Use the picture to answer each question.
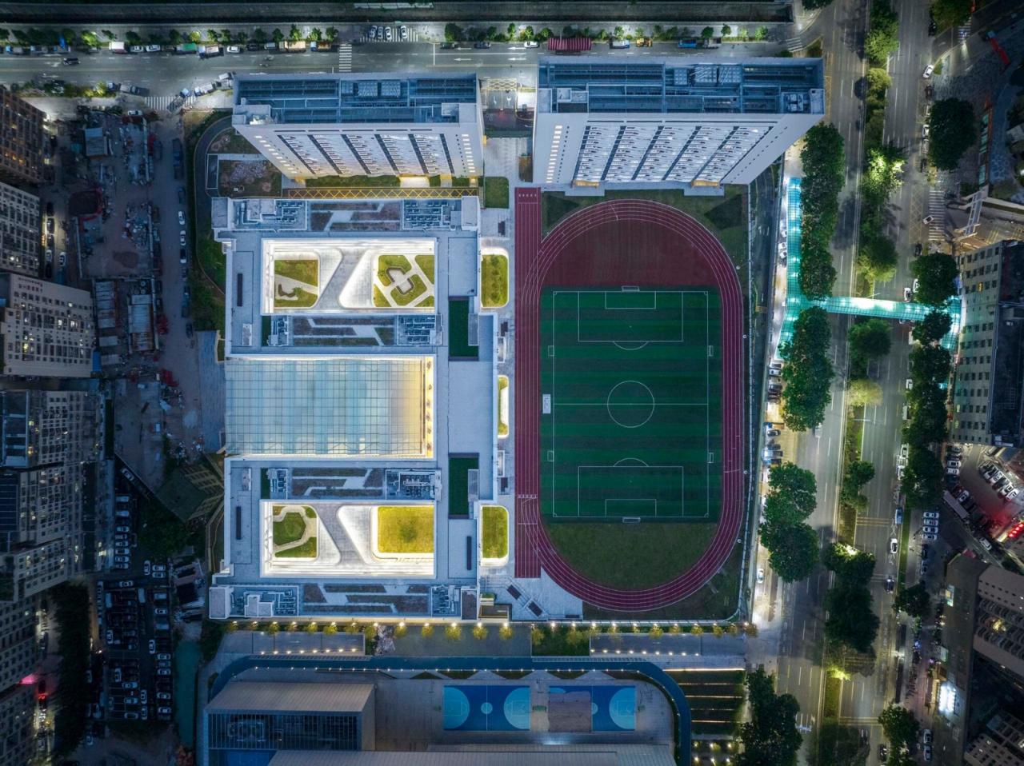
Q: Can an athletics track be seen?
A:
Yes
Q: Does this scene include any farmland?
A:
No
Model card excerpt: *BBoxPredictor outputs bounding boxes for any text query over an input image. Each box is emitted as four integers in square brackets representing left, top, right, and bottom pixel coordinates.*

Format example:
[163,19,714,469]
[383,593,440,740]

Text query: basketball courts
[548,685,635,731]
[443,685,530,731]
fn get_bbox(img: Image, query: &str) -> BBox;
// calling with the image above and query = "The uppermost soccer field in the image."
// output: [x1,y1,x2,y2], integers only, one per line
[541,286,722,522]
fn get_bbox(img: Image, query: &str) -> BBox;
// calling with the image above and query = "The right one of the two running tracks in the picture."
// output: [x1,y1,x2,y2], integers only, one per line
[515,189,744,613]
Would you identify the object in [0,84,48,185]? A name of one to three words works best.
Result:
building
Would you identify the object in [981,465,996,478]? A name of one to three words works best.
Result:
vehicle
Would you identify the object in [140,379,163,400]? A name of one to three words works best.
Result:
shed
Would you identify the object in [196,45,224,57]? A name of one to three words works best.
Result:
vehicle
